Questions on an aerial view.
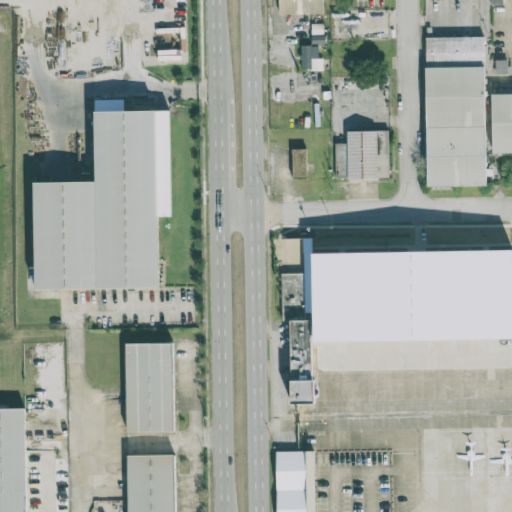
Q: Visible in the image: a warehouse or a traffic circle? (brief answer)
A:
warehouse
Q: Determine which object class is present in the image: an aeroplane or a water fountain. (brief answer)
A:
aeroplane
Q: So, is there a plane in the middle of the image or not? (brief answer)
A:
No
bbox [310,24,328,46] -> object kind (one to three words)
house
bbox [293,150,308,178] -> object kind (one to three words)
building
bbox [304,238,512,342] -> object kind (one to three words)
hangar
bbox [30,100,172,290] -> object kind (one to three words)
warehouse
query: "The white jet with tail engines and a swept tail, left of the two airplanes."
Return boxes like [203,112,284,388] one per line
[458,442,486,476]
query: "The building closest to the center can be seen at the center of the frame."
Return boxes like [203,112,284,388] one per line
[274,239,300,265]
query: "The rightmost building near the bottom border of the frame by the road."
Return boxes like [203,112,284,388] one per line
[276,451,316,512]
